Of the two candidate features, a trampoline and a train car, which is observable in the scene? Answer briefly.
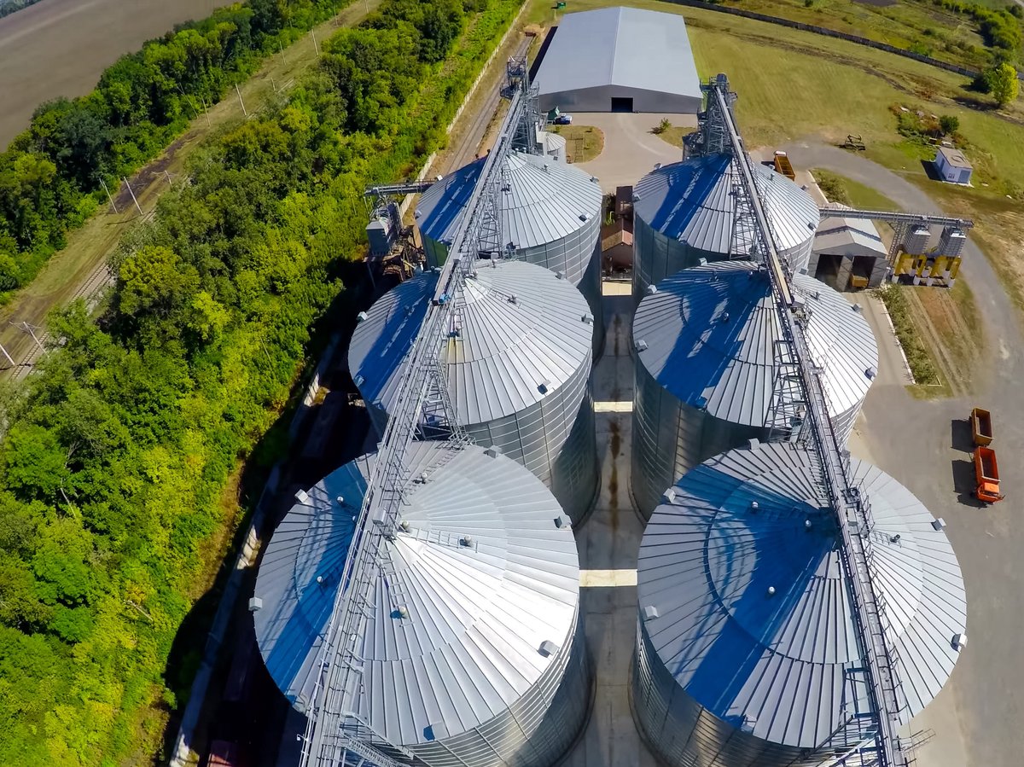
train car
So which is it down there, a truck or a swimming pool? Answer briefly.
truck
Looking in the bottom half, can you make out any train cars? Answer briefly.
Yes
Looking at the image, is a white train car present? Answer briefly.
No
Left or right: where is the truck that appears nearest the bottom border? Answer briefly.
right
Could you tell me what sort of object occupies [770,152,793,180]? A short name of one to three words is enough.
truck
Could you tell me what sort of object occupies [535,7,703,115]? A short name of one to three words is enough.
building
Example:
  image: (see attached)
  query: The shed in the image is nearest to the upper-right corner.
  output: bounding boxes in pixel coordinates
[924,145,973,186]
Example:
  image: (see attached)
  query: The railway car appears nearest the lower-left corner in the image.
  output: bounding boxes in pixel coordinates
[206,740,258,767]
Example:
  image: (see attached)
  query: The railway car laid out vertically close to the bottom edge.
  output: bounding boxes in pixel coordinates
[220,614,276,736]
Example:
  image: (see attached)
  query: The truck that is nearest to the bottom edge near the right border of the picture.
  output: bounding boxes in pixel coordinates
[971,442,1003,502]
